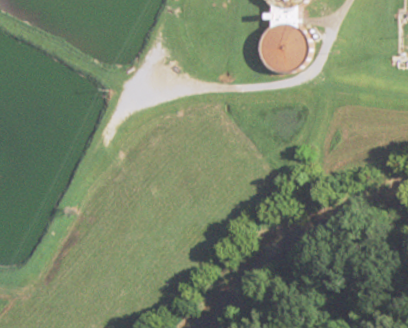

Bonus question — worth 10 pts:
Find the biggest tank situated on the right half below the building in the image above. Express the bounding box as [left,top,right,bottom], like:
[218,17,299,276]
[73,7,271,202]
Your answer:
[259,23,314,75]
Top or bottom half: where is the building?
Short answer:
top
